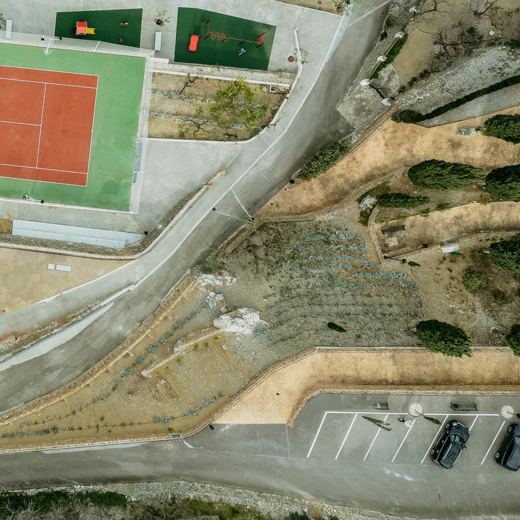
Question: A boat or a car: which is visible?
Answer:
car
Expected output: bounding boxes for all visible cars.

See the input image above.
[497,424,520,473]
[433,422,471,471]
